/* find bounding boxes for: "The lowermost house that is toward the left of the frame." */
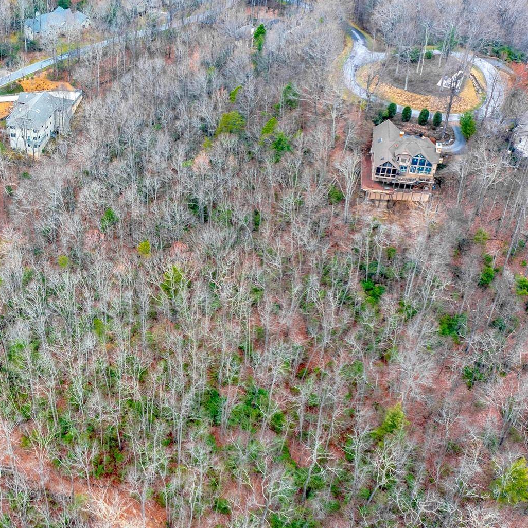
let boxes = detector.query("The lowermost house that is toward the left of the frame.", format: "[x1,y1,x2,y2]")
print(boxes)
[4,87,85,156]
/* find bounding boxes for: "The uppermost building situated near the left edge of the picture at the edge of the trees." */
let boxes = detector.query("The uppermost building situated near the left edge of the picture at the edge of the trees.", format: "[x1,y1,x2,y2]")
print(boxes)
[21,11,89,43]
